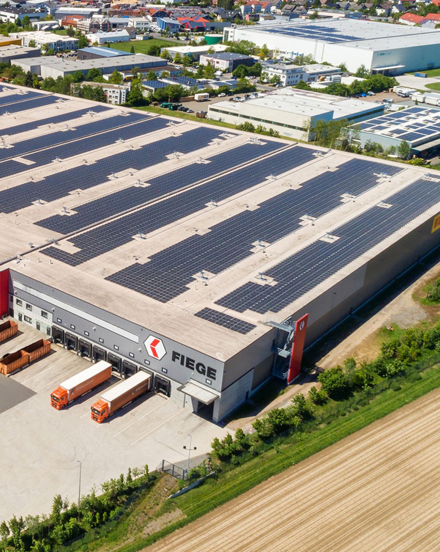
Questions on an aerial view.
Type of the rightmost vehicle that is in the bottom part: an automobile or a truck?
truck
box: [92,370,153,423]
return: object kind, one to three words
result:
truck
